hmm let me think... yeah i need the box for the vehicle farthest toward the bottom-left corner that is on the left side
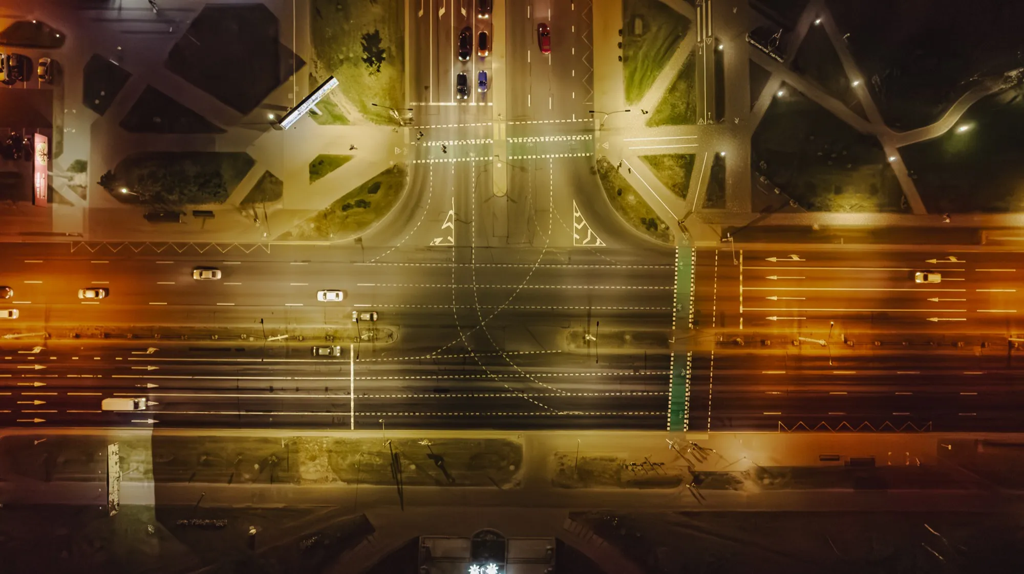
[99,397,146,412]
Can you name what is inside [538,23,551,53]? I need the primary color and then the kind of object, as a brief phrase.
red vehicle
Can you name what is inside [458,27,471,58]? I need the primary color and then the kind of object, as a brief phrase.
black vehicle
